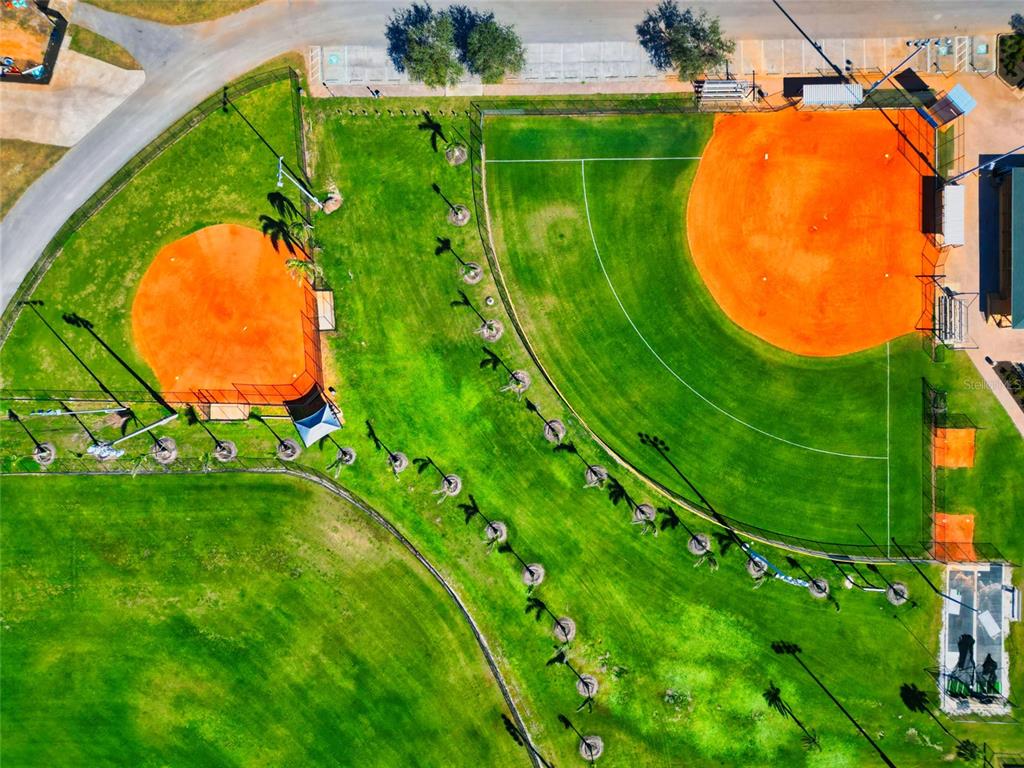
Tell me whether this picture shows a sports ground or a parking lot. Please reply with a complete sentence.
This looks like a sports ground.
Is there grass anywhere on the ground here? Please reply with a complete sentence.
Yes, there's grass in this view.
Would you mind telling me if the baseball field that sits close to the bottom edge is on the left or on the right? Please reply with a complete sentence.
You can find the baseball field that sits close to the bottom edge on the left side of the picture.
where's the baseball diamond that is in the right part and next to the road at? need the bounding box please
[485,110,936,560]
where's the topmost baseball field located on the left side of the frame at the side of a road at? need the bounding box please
[0,78,323,404]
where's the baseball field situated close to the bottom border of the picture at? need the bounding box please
[0,472,537,768]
